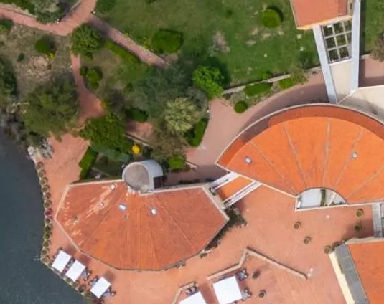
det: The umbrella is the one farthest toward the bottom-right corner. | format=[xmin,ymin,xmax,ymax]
[213,276,242,304]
